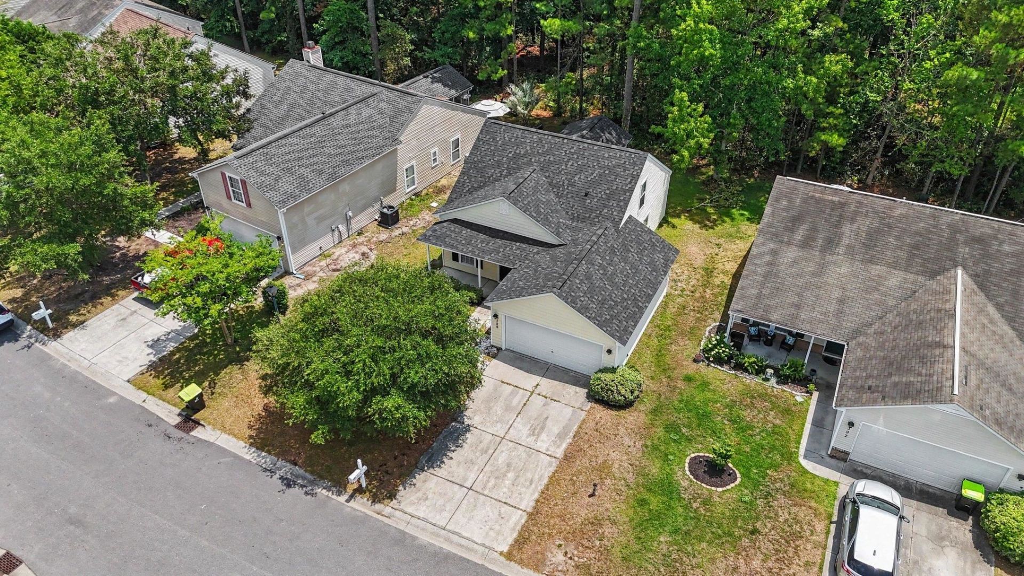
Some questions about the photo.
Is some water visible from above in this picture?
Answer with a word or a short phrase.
No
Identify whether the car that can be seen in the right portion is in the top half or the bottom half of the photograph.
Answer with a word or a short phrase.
bottom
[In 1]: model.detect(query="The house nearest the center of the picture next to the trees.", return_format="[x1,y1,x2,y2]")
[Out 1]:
[417,114,680,379]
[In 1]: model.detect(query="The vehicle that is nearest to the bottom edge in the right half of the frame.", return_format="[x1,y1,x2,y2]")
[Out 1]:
[832,480,911,576]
